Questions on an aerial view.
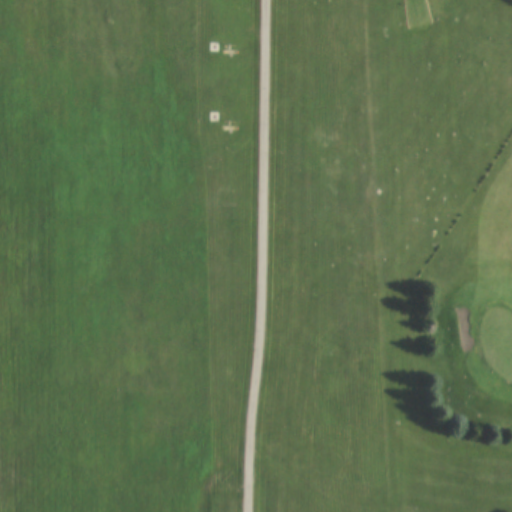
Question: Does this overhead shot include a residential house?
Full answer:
No, no residential house is visible in the scene.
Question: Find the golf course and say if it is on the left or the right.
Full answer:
The golf course appears in the right half of the scene.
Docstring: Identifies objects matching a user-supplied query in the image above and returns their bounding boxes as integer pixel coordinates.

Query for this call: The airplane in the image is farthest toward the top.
[223,44,240,58]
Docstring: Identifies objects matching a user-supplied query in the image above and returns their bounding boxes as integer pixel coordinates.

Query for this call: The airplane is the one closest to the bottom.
[223,120,239,134]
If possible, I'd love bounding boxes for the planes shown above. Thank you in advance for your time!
[223,120,239,134]
[223,44,240,58]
